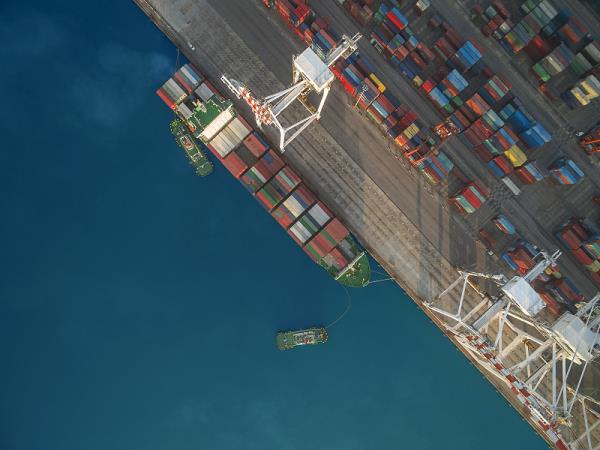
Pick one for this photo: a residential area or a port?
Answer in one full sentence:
The picture captures a port.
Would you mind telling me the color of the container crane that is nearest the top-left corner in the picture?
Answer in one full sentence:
In this view, the container crane that is nearest the top-left corner is white.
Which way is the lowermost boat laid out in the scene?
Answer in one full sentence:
The lowermost boat runs from side to side in the image.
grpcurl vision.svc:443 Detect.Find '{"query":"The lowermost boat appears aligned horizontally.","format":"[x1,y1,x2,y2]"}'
[275,329,329,351]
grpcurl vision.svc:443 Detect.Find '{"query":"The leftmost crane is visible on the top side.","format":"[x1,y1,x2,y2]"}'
[219,23,366,156]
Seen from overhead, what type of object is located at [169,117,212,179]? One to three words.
boat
